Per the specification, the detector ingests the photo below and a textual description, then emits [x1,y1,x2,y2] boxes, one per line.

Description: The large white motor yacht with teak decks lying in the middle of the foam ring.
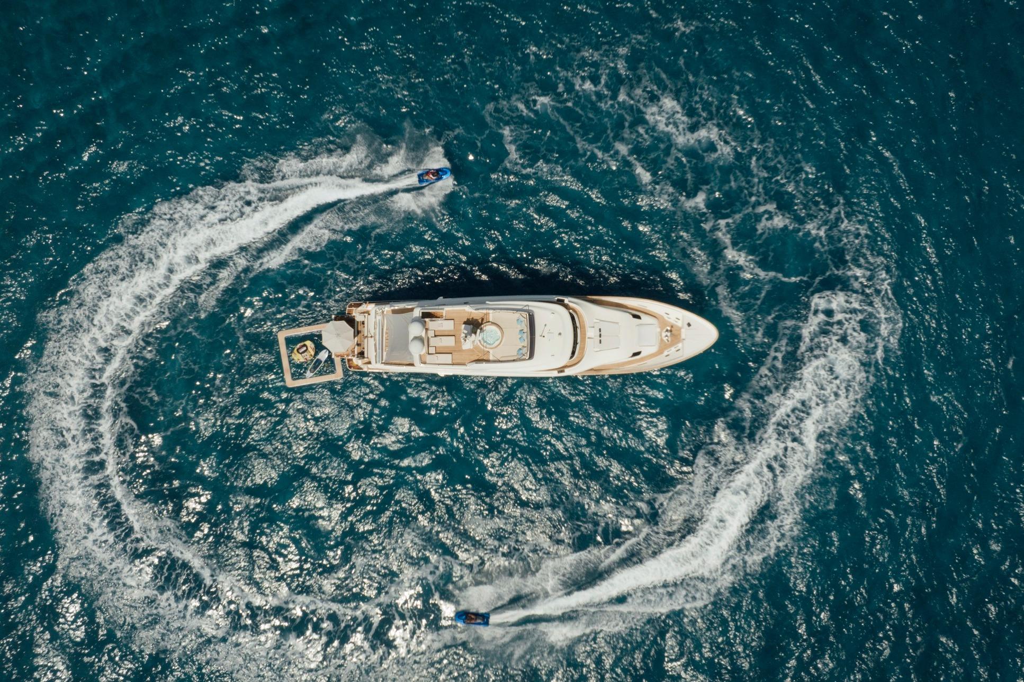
[332,295,719,377]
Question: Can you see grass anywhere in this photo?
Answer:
No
